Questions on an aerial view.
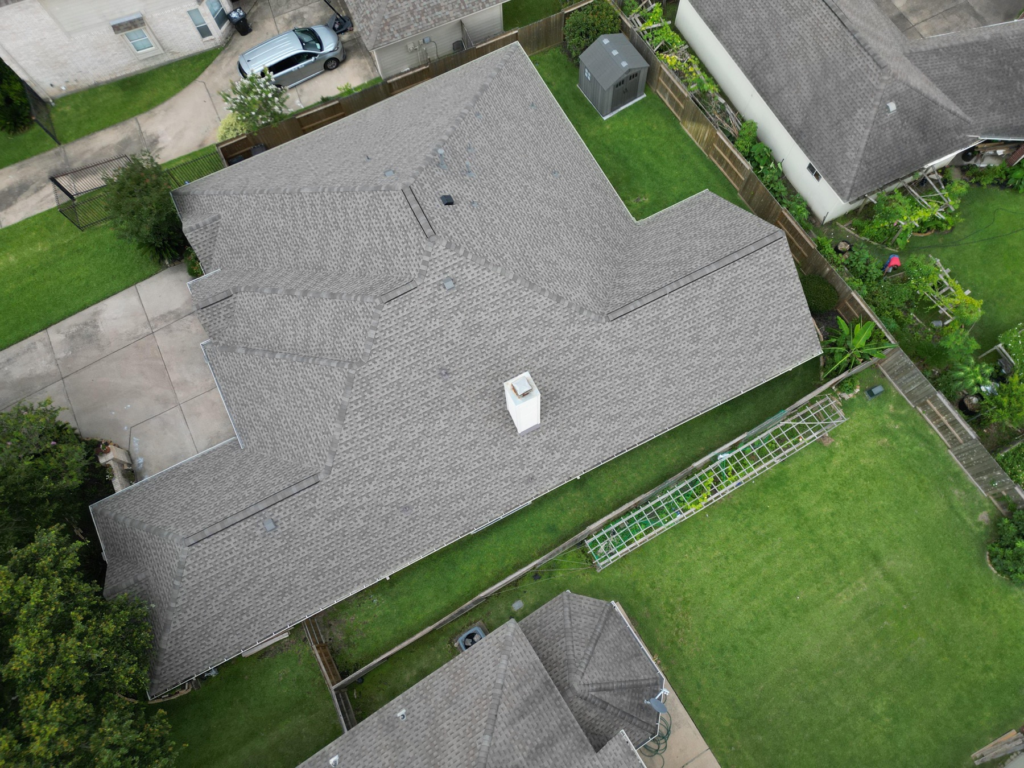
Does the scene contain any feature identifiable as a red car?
No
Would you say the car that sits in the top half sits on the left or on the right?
left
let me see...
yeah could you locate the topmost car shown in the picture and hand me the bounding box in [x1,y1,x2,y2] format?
[236,22,346,88]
